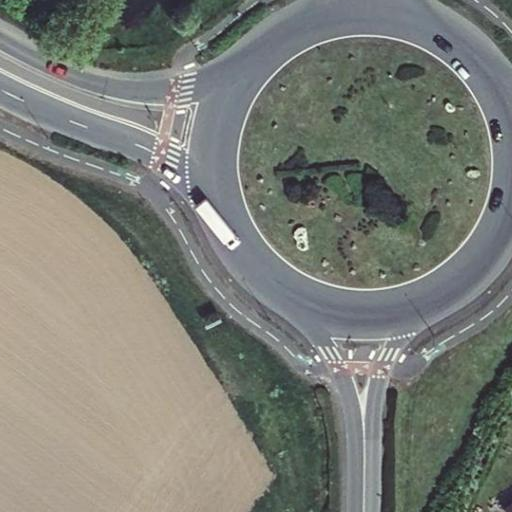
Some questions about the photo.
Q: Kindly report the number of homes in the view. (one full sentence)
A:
No homes are visible.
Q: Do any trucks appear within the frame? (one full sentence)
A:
Yes, there's a truck down there.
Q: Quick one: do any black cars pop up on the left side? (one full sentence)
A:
No, I see no black car on the left side.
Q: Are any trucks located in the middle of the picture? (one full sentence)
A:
Yes, looking in the middle of the picture, one can make out a truck.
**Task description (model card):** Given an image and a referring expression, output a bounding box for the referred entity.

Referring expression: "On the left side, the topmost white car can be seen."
[162,167,183,185]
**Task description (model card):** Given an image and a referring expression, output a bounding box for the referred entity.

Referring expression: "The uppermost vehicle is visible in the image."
[434,34,454,54]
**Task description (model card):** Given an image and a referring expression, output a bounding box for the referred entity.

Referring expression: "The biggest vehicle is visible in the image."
[196,200,242,250]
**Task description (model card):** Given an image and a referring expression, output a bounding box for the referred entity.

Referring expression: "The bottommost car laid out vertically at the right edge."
[490,188,503,212]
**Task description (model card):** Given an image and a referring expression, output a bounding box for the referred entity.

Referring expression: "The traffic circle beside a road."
[199,0,512,334]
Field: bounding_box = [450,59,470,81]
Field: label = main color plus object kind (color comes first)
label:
white vehicle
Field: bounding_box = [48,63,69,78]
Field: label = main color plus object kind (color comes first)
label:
red car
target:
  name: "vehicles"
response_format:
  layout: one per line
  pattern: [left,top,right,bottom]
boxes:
[490,120,502,142]
[450,59,470,81]
[48,63,69,78]
[434,34,454,54]
[490,188,503,212]
[162,167,183,185]
[196,200,242,250]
